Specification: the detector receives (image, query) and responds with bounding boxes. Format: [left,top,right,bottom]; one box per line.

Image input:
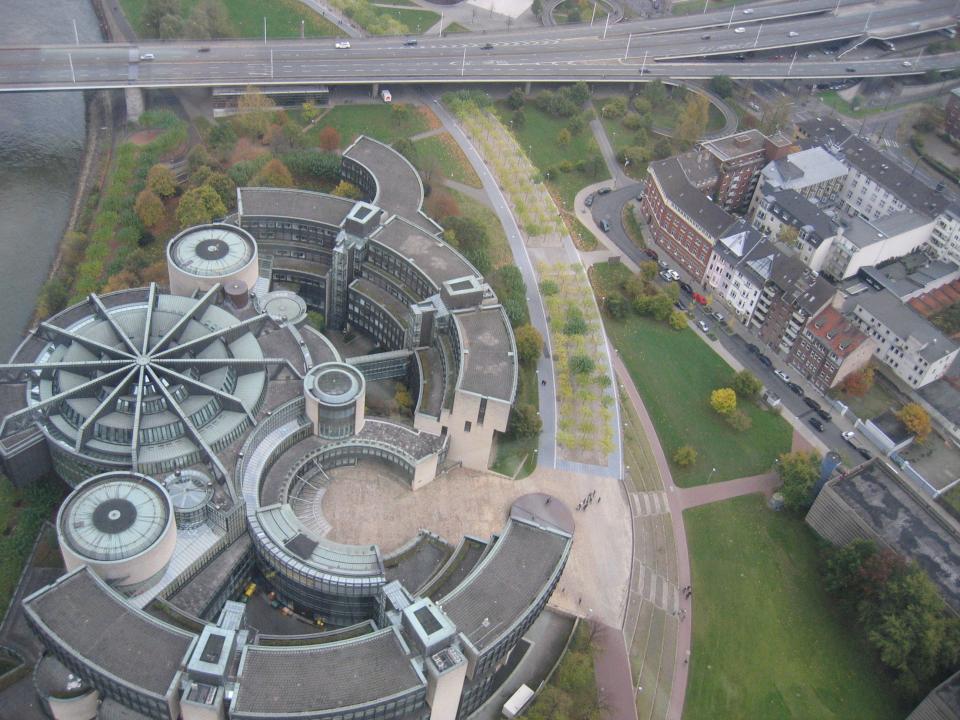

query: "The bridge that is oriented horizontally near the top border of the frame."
[0,0,960,144]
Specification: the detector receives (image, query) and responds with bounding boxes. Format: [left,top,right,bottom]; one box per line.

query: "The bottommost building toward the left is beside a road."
[0,134,574,720]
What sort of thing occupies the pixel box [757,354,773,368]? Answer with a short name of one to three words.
vehicle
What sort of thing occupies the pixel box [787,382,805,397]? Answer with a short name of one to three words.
car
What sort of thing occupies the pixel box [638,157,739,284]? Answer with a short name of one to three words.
building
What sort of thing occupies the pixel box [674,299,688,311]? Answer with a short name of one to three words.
vehicle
